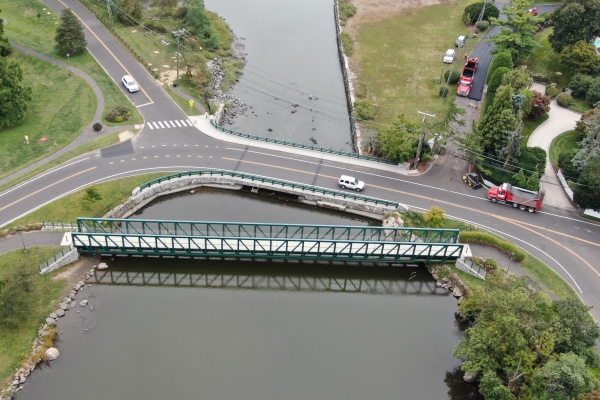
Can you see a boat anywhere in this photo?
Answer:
No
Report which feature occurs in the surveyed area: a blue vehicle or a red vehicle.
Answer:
red vehicle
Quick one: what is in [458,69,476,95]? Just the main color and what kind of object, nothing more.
red vehicle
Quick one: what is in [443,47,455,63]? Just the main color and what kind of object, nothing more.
white vehicle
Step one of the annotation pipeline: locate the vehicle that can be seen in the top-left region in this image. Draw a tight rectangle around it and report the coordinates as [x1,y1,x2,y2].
[122,74,138,91]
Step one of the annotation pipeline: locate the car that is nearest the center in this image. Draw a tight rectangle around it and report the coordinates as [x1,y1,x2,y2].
[338,175,365,192]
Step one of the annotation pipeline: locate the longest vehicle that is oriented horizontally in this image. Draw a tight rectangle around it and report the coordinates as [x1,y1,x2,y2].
[488,184,541,213]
